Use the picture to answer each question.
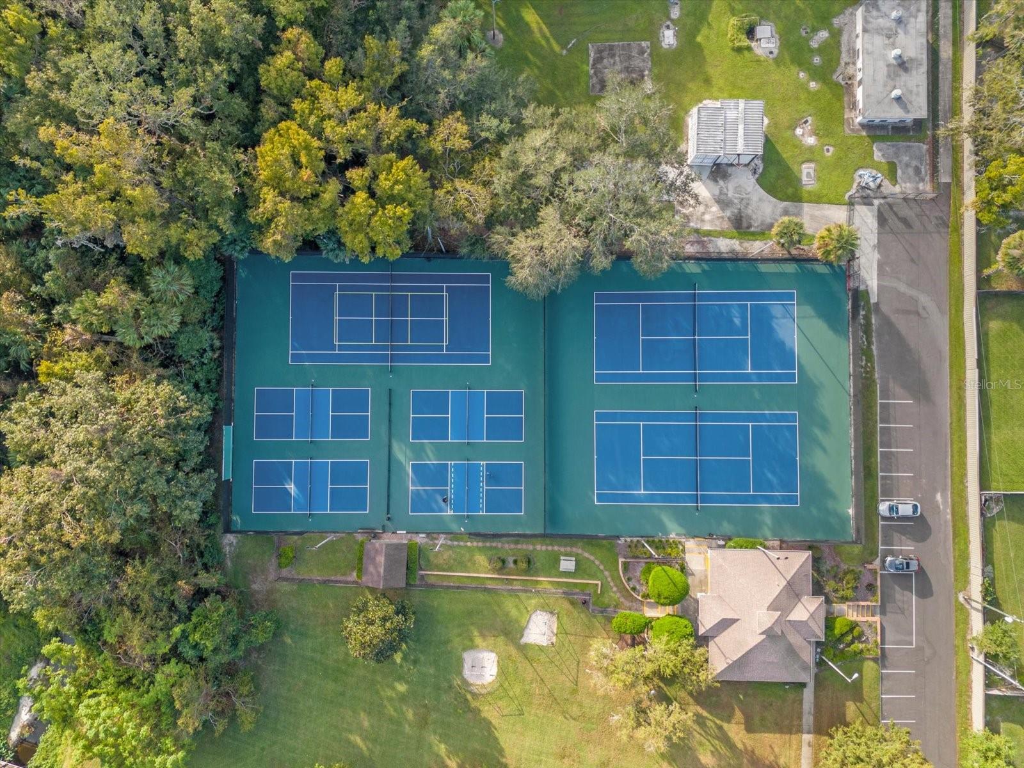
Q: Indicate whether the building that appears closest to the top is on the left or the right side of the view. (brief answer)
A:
right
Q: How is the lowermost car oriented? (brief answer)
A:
from left to right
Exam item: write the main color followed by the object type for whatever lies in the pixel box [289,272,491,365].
blue tennis court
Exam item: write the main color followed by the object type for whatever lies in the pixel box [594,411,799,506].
blue tennis court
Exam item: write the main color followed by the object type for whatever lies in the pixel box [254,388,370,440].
blue sports court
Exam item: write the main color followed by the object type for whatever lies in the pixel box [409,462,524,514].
blue sports court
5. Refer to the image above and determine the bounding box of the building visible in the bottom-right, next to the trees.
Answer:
[693,549,825,682]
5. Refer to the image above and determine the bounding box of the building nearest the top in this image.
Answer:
[857,0,927,125]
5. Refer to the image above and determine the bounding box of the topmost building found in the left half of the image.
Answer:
[362,539,409,588]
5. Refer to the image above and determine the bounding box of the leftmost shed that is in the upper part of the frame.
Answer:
[688,100,764,166]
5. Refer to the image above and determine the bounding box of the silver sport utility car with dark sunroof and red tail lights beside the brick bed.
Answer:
[885,555,924,575]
